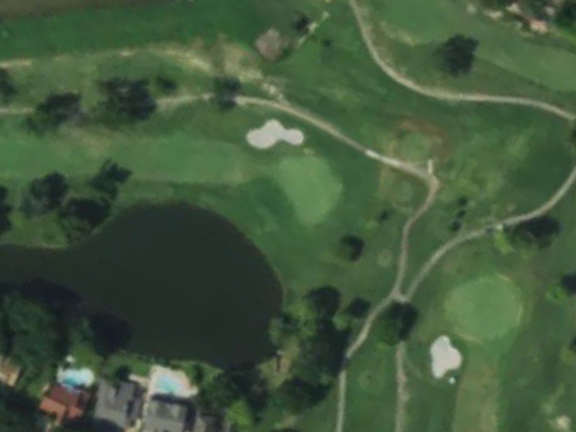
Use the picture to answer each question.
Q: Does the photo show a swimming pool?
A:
Yes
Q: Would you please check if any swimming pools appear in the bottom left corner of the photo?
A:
Yes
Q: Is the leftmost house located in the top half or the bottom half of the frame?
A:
bottom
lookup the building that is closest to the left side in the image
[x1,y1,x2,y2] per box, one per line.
[0,359,21,387]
